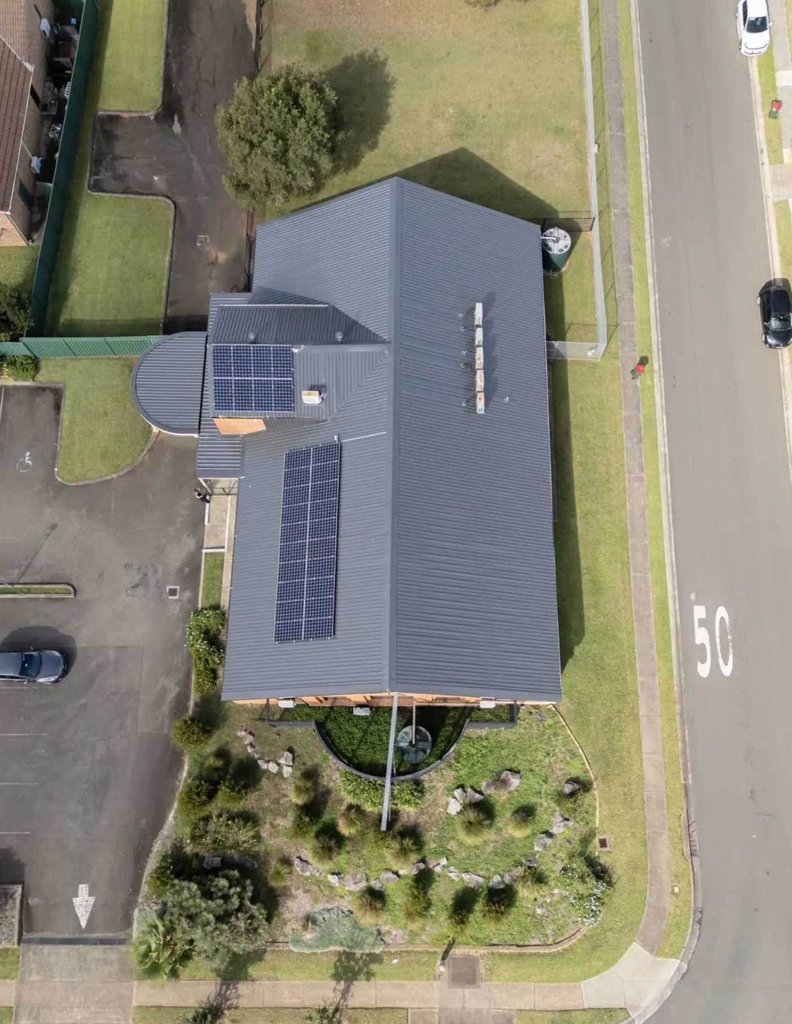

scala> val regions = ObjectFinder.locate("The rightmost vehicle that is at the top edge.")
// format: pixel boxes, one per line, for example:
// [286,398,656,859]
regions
[730,0,774,53]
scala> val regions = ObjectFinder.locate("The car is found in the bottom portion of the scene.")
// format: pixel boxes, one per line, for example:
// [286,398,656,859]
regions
[0,642,71,687]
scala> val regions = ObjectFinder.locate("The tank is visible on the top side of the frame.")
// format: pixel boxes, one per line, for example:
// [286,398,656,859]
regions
[541,229,571,277]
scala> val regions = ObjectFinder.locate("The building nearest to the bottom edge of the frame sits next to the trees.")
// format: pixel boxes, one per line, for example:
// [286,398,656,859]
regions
[130,177,564,705]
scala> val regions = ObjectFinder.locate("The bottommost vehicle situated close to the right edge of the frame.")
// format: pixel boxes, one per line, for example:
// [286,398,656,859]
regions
[754,282,792,352]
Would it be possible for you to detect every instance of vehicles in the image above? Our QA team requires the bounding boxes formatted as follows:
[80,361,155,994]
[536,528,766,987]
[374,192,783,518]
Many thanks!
[754,282,792,352]
[730,0,774,53]
[0,642,71,687]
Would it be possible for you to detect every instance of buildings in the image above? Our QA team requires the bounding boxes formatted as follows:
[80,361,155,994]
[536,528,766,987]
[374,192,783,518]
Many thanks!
[0,0,56,246]
[130,177,564,705]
